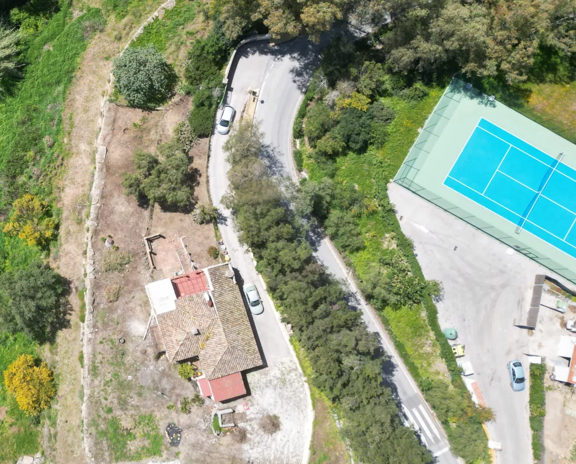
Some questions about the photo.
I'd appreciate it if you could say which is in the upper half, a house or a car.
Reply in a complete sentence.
There is a car in the upper half.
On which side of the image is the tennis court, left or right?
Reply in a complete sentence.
The tennis court is on the right side of the image.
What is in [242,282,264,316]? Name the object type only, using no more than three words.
car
